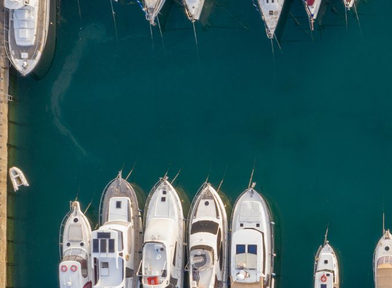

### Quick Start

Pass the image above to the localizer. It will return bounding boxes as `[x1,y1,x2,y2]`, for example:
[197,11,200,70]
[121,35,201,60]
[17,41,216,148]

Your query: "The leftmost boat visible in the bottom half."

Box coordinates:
[9,168,30,193]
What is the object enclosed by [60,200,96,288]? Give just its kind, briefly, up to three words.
boat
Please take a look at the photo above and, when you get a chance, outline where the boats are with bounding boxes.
[60,200,96,288]
[9,168,30,193]
[303,0,325,31]
[374,231,392,288]
[255,0,288,38]
[138,177,191,288]
[142,0,170,23]
[340,0,358,9]
[229,186,278,288]
[0,0,61,76]
[183,0,209,21]
[186,181,234,288]
[315,242,340,288]
[92,170,146,288]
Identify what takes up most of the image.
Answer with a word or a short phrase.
water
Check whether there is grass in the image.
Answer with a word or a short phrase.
No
